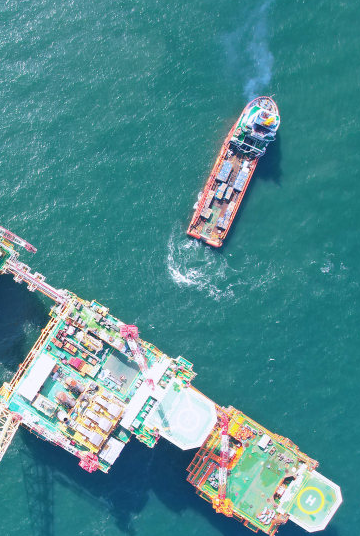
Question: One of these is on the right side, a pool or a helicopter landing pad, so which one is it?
helicopter landing pad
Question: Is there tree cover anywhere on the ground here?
No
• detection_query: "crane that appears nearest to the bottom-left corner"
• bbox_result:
[15,419,103,474]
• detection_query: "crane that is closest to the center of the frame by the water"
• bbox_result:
[117,317,154,389]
